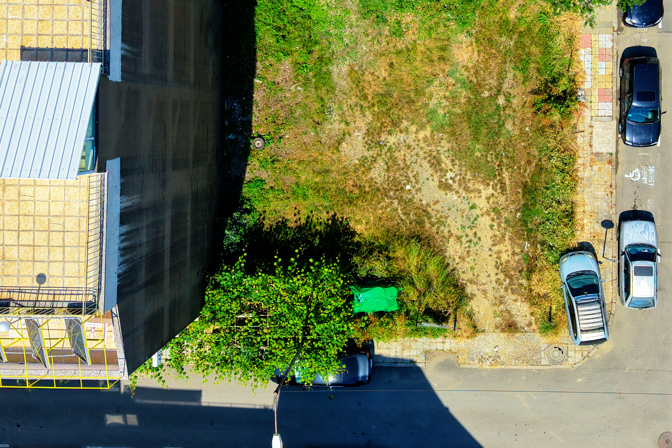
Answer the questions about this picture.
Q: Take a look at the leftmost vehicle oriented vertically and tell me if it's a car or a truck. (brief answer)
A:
car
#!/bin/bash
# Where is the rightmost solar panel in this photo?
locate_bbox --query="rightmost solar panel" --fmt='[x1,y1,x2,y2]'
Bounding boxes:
[65,316,93,366]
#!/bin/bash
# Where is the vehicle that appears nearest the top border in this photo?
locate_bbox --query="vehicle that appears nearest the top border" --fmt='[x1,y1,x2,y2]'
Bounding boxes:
[619,0,660,34]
